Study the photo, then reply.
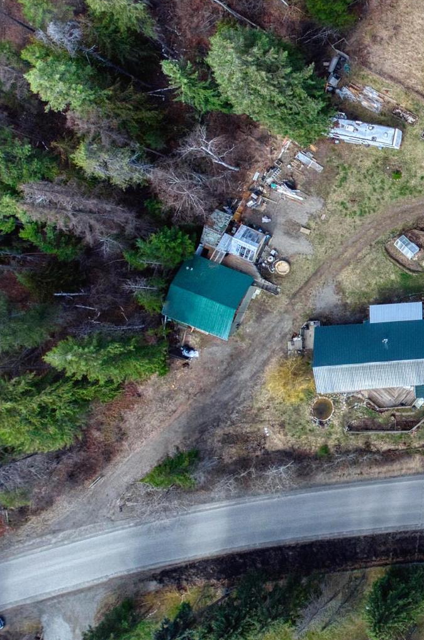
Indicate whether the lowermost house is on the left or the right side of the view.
right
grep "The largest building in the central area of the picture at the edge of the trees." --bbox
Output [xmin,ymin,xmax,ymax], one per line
[161,255,259,339]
